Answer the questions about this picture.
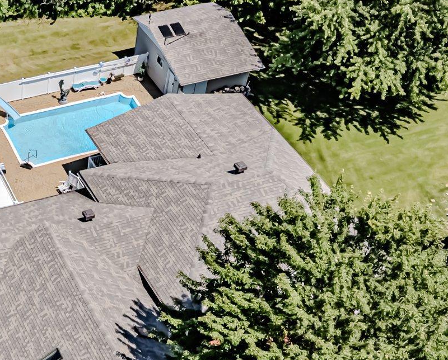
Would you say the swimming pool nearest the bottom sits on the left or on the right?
left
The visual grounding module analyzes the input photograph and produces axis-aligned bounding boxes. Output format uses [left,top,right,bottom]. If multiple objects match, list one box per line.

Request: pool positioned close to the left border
[0,90,142,166]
